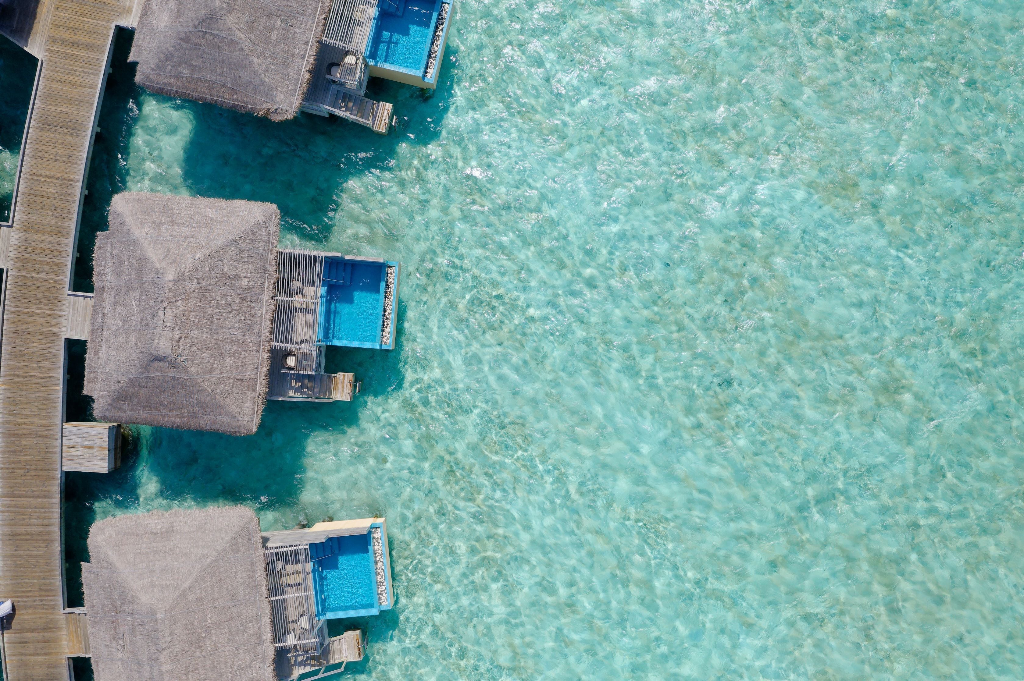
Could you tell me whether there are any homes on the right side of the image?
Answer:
No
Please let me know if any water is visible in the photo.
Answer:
Yes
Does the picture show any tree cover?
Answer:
No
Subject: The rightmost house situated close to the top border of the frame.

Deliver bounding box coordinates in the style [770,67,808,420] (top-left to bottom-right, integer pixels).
[126,0,330,129]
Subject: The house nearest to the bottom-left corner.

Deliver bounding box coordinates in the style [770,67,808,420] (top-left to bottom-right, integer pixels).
[80,502,281,681]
